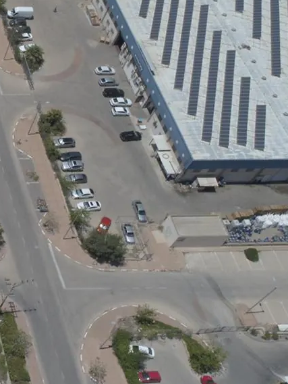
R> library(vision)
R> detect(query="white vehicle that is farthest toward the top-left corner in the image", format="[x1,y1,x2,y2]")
[8,5,35,18]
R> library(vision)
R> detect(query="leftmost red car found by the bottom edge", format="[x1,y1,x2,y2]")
[137,369,165,384]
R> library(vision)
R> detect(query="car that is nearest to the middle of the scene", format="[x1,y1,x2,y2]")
[132,199,149,222]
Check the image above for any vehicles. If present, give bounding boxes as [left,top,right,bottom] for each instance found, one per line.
[108,107,132,117]
[60,158,85,172]
[118,130,143,141]
[97,215,114,232]
[13,24,33,34]
[8,5,35,18]
[132,199,149,222]
[71,187,95,199]
[62,149,84,161]
[76,199,102,211]
[97,77,120,87]
[101,87,126,98]
[64,173,90,184]
[133,343,157,360]
[109,98,133,108]
[18,43,39,53]
[93,66,116,76]
[120,223,136,246]
[9,18,27,27]
[54,136,77,148]
[137,369,165,384]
